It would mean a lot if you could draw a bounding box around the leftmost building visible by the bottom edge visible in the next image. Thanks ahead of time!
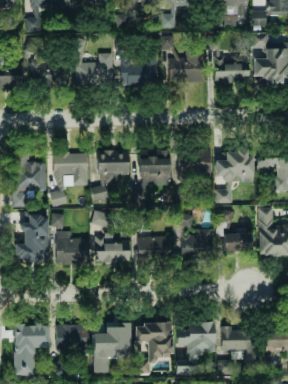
[14,325,50,376]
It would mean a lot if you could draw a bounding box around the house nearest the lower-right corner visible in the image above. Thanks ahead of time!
[266,338,288,354]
